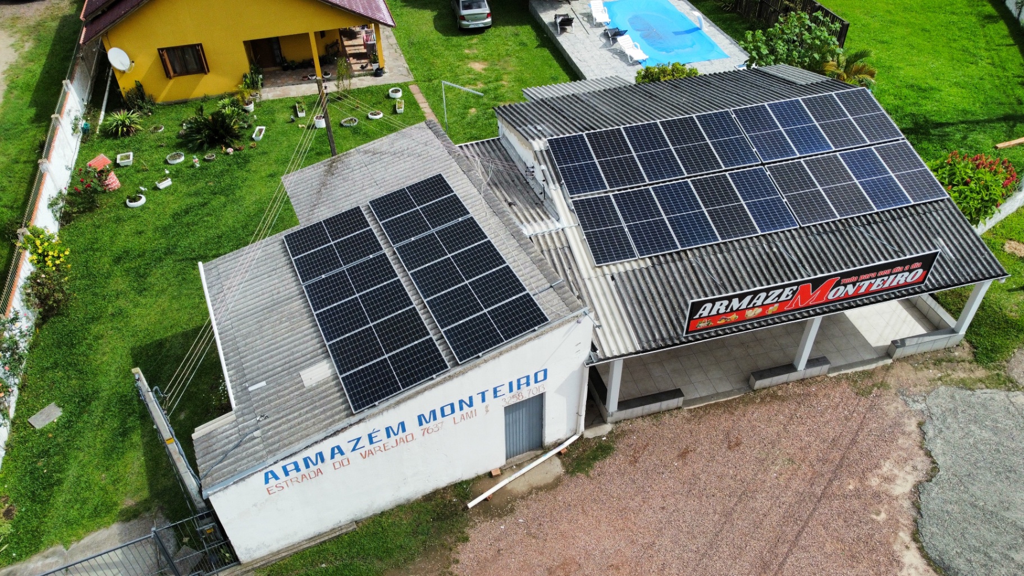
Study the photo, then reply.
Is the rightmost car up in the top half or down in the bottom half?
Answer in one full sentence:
The rightmost car is in the top half of the image.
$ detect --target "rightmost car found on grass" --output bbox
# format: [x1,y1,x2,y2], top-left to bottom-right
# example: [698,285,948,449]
[457,0,497,27]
